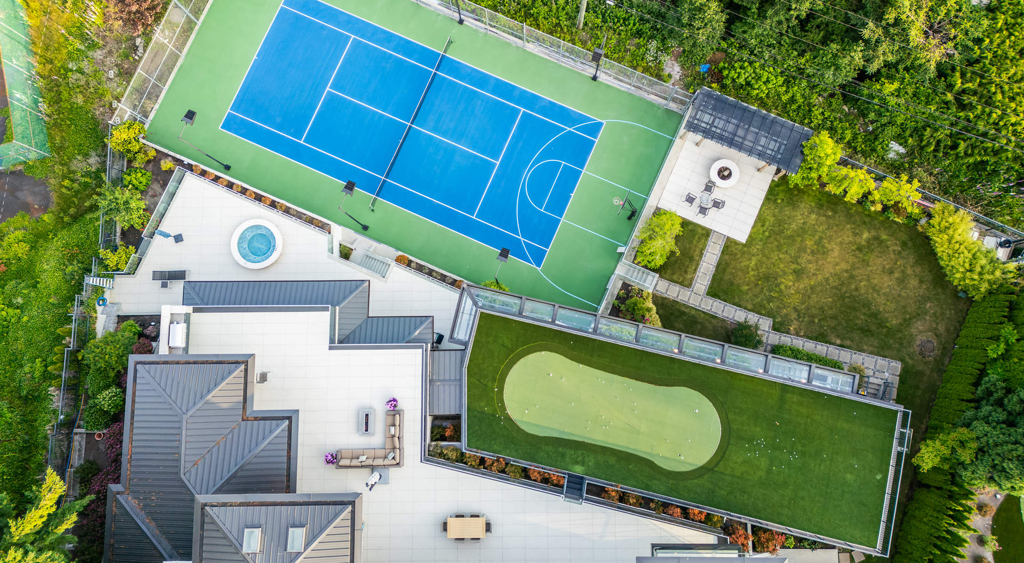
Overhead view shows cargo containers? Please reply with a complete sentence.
No, there's no cargo container here.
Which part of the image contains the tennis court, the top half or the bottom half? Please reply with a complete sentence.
The top half of the photo is where the tennis court is.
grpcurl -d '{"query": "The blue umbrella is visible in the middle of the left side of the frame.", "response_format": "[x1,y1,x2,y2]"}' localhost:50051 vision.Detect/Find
[154,230,183,243]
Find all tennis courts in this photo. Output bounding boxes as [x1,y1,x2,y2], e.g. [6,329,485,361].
[146,0,684,332]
